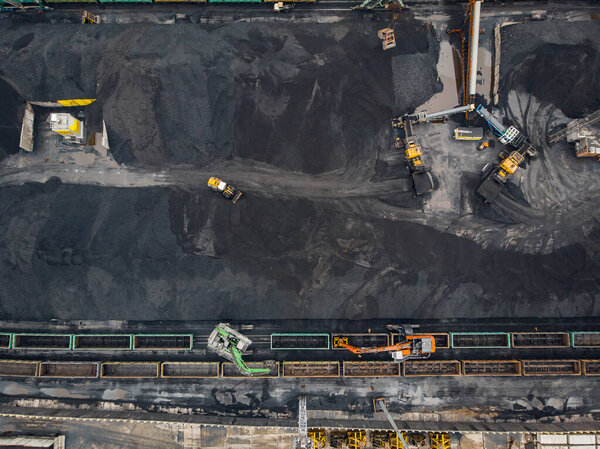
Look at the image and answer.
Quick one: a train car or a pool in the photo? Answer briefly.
train car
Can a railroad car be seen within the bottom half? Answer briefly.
Yes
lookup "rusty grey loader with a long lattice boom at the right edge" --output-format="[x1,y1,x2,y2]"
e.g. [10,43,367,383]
[547,107,600,161]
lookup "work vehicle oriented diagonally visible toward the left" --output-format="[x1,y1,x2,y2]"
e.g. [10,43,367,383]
[205,177,242,208]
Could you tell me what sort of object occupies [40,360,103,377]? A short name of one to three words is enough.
rail car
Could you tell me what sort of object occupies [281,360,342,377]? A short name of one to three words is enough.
rail car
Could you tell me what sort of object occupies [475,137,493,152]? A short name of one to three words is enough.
work vehicle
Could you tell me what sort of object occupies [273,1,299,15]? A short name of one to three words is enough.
vehicle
